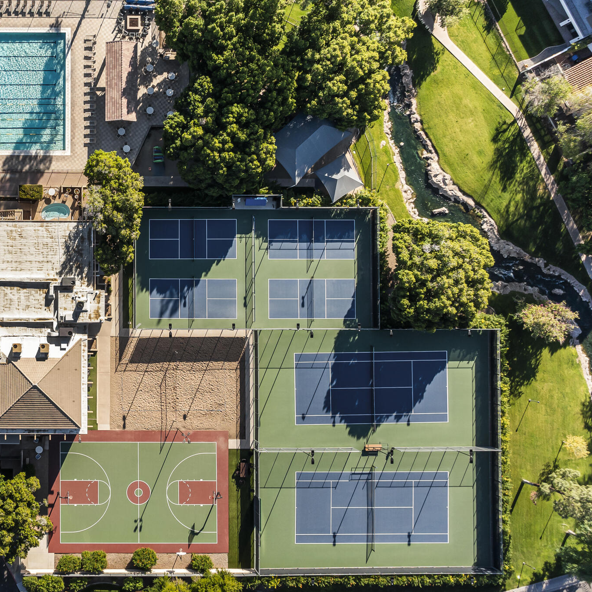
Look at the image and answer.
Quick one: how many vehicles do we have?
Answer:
0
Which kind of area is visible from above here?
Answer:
sports ground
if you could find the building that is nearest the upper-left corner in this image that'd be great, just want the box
[106,39,138,123]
